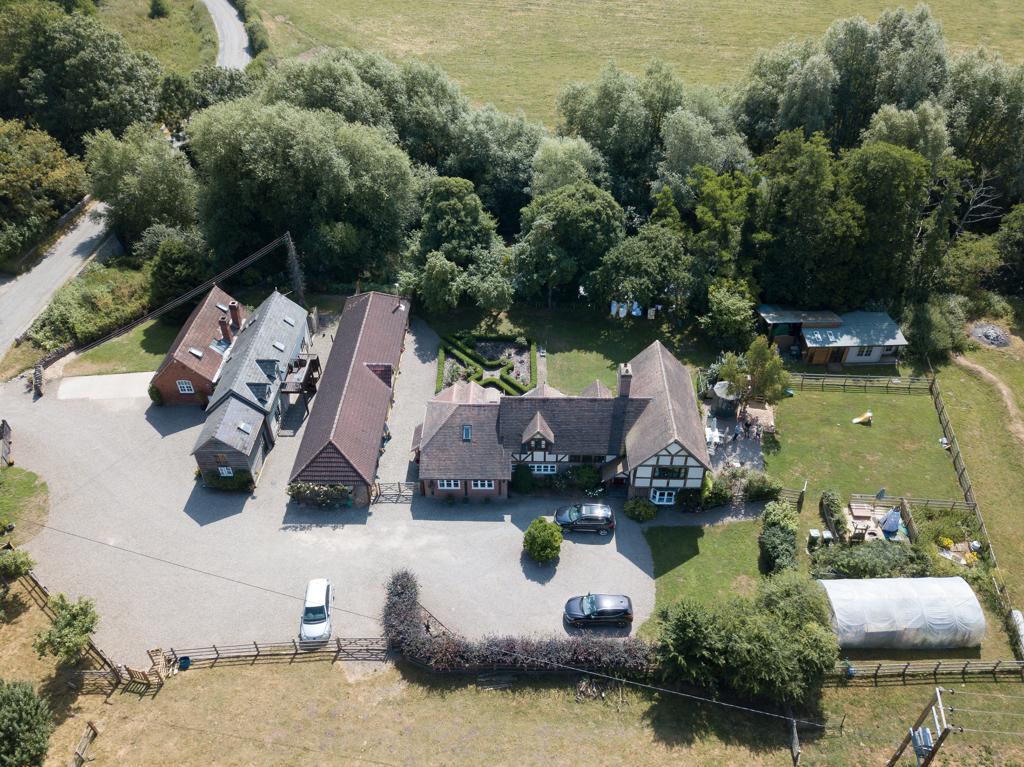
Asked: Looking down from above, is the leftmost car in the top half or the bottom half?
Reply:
bottom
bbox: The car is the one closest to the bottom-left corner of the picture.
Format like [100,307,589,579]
[298,579,336,644]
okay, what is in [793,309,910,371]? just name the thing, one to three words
building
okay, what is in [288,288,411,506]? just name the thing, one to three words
barn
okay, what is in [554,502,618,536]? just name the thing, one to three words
car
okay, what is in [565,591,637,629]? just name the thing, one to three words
car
